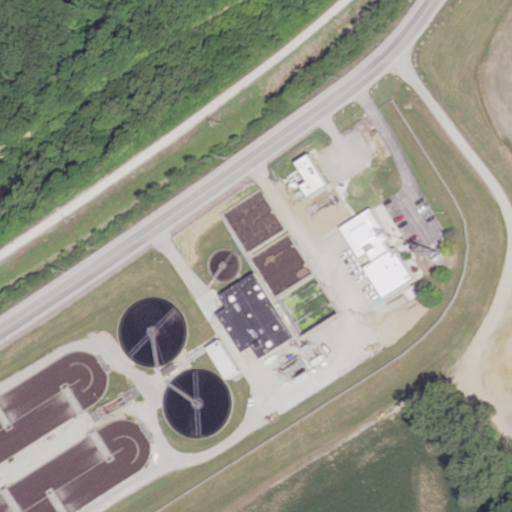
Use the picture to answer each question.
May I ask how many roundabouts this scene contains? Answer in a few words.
0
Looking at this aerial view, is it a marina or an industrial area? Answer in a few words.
industrial area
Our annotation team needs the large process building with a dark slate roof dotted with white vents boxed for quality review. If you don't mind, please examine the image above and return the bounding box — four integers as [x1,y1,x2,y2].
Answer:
[216,271,295,358]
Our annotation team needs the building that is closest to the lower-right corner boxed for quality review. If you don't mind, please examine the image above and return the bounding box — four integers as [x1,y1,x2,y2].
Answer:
[362,251,415,297]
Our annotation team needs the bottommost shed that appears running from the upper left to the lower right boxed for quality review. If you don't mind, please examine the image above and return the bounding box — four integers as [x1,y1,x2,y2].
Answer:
[205,340,242,381]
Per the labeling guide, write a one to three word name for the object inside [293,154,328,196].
building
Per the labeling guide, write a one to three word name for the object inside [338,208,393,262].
building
